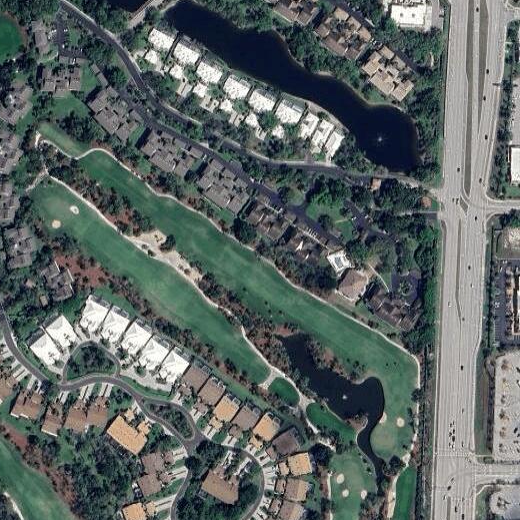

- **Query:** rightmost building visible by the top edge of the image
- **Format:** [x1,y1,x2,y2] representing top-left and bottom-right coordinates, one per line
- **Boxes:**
[391,5,431,28]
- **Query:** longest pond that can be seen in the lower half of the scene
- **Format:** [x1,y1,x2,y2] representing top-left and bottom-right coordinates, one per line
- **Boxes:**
[278,333,385,495]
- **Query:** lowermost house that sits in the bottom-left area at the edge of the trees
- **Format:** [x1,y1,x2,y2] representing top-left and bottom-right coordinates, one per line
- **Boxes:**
[120,502,157,520]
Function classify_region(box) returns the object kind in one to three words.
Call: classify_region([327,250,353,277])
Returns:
swimming pool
